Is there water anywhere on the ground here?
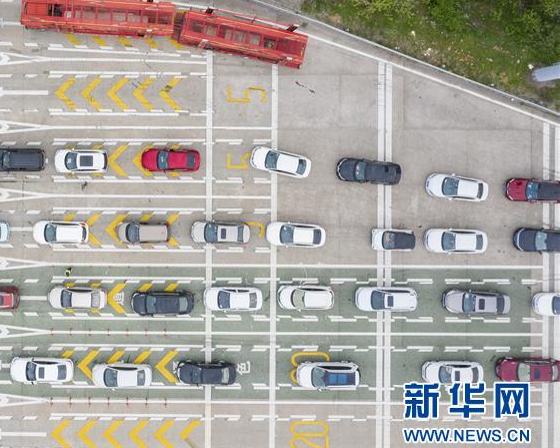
No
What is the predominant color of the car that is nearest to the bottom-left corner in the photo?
white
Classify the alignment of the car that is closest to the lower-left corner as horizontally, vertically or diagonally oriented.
horizontally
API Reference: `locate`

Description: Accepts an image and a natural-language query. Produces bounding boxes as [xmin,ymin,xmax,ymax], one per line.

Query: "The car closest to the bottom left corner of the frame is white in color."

[11,356,73,385]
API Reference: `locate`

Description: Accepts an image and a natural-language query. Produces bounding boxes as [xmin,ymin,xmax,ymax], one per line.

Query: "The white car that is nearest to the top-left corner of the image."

[54,147,107,174]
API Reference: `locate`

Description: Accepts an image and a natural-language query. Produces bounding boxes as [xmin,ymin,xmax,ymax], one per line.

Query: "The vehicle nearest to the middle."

[265,220,326,248]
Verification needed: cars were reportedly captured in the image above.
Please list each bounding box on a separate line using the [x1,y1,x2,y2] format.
[116,219,170,246]
[250,145,310,177]
[265,220,326,248]
[203,285,263,313]
[141,147,200,174]
[334,155,401,185]
[423,172,488,202]
[423,227,487,255]
[0,146,45,173]
[492,357,560,384]
[176,359,237,387]
[354,285,418,313]
[296,360,361,389]
[420,358,485,387]
[0,286,19,309]
[49,285,107,312]
[528,290,560,318]
[92,361,152,389]
[370,227,418,252]
[190,219,249,246]
[33,218,89,246]
[54,147,107,174]
[441,287,511,315]
[276,284,334,312]
[11,356,73,385]
[510,226,560,254]
[132,289,194,317]
[502,175,560,204]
